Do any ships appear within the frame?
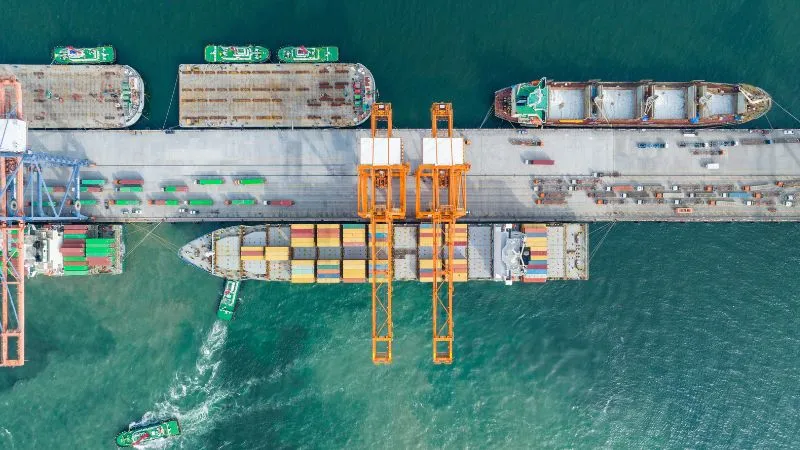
Yes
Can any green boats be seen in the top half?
Yes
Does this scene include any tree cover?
No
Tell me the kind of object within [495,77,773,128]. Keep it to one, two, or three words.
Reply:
ship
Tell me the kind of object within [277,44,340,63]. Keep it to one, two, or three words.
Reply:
boat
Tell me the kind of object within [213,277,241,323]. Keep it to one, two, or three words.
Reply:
boat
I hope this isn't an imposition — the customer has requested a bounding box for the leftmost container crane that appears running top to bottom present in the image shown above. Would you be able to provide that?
[0,77,94,367]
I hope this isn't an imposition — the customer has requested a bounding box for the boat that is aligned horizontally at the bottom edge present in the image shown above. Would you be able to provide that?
[113,417,182,447]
